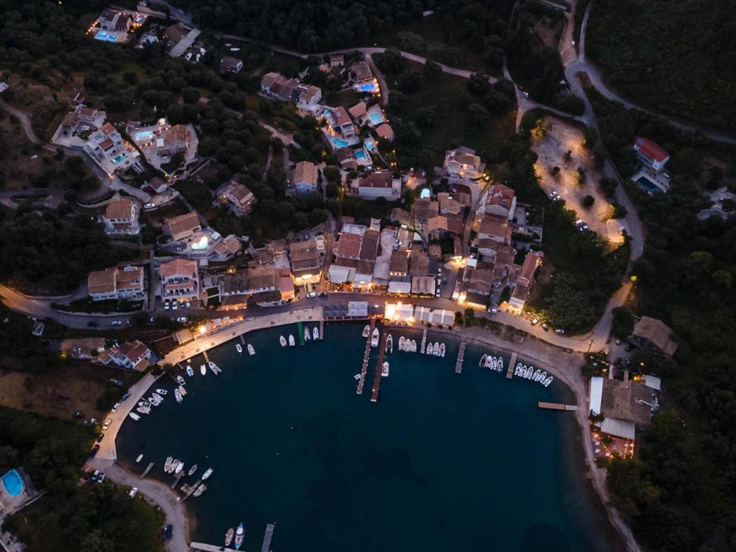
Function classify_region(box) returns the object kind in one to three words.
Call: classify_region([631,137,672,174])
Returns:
house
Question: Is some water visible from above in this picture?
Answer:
Yes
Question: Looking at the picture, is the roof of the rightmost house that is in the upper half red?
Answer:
Yes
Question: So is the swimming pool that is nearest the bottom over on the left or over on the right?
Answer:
left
